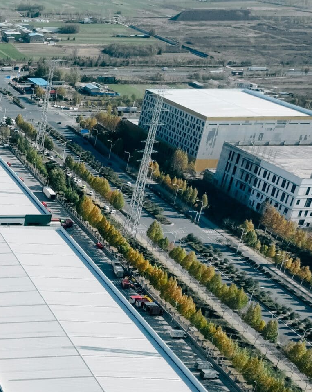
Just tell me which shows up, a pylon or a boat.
pylon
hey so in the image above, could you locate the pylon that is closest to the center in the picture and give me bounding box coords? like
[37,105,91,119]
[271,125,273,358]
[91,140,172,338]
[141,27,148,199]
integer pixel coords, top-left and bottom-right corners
[119,88,168,237]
